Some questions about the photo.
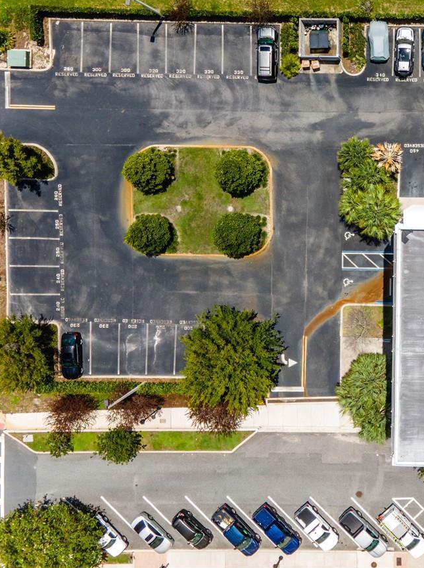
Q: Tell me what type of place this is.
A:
parking lot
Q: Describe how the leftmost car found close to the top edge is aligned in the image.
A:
up and down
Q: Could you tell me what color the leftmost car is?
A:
black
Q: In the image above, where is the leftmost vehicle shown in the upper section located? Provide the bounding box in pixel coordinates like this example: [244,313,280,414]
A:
[253,27,279,82]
